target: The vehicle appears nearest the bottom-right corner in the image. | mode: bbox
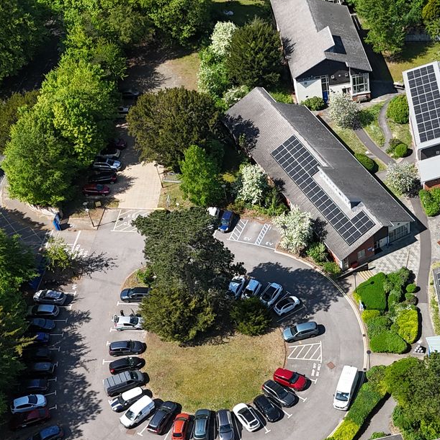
[334,365,358,411]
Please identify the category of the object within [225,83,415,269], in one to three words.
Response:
building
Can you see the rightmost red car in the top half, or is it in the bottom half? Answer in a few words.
bottom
